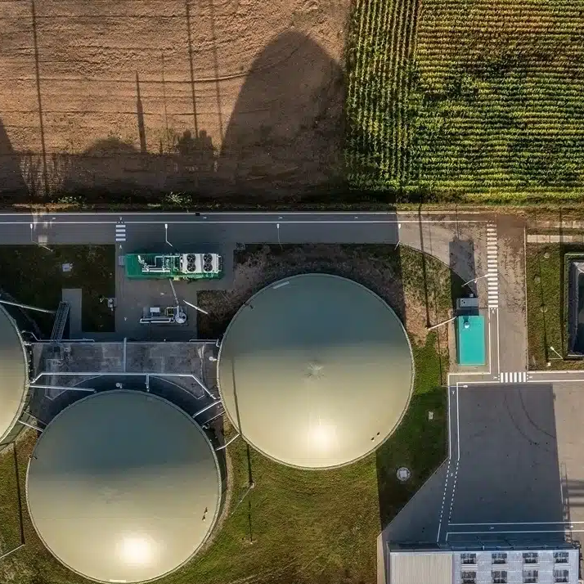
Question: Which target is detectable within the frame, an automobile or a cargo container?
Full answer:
Of the two, only a cargo container appears.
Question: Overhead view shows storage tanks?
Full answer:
Yes, a storage tank appears in the view.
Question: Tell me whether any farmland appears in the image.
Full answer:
Yes, there's farmland in this view.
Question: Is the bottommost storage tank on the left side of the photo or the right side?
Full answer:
The bottommost storage tank is on the left side of the image.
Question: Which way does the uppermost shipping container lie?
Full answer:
In this picture, the uppermost shipping container lies horizontally.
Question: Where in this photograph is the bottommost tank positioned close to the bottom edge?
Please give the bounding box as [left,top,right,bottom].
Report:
[27,390,224,584]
